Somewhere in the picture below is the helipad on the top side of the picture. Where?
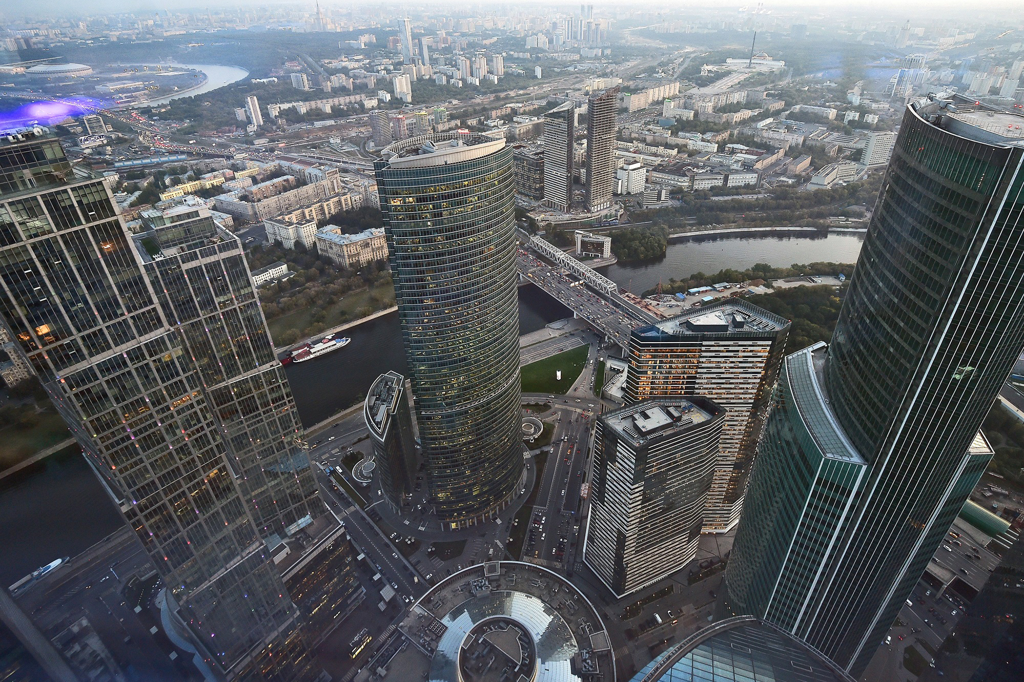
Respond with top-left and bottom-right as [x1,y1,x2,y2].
[942,106,1024,146]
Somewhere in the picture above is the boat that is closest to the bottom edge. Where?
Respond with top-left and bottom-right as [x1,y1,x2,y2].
[33,555,70,580]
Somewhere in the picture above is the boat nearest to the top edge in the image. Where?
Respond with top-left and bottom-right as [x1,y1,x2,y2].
[292,336,351,363]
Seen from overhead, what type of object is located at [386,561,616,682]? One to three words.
building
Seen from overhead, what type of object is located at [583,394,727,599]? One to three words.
building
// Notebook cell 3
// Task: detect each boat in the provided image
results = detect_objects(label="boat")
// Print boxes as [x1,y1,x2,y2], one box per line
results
[33,555,70,580]
[292,336,351,363]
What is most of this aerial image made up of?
buildings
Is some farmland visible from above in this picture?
No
